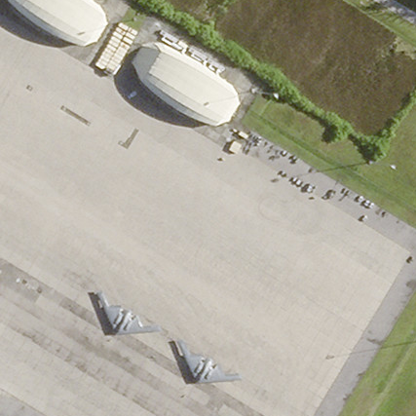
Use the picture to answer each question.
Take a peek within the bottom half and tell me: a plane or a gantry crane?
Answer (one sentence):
Looking within the bottom half, you will find a plane.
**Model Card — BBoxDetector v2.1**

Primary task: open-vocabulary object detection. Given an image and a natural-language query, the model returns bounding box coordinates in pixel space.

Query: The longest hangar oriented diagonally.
[132,41,241,125]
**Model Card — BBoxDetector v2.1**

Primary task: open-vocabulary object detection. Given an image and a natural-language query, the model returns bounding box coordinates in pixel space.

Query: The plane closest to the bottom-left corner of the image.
[99,294,161,334]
